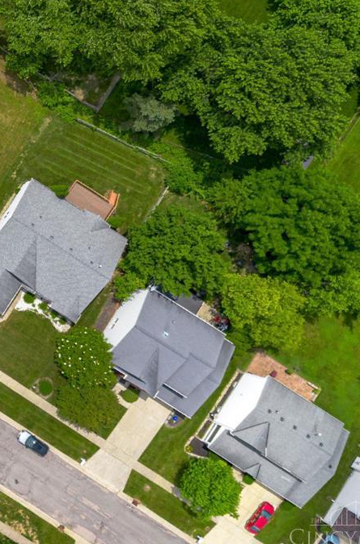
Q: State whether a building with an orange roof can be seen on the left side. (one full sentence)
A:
No, looking on the left side, there is no building with an orange roof.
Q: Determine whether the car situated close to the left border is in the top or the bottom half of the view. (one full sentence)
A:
It is in the bottom half that the car situated close to the left border appears.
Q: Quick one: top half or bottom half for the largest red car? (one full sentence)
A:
It is in the bottom half that the largest red car appears.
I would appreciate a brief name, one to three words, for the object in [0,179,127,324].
house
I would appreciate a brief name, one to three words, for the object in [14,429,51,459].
car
